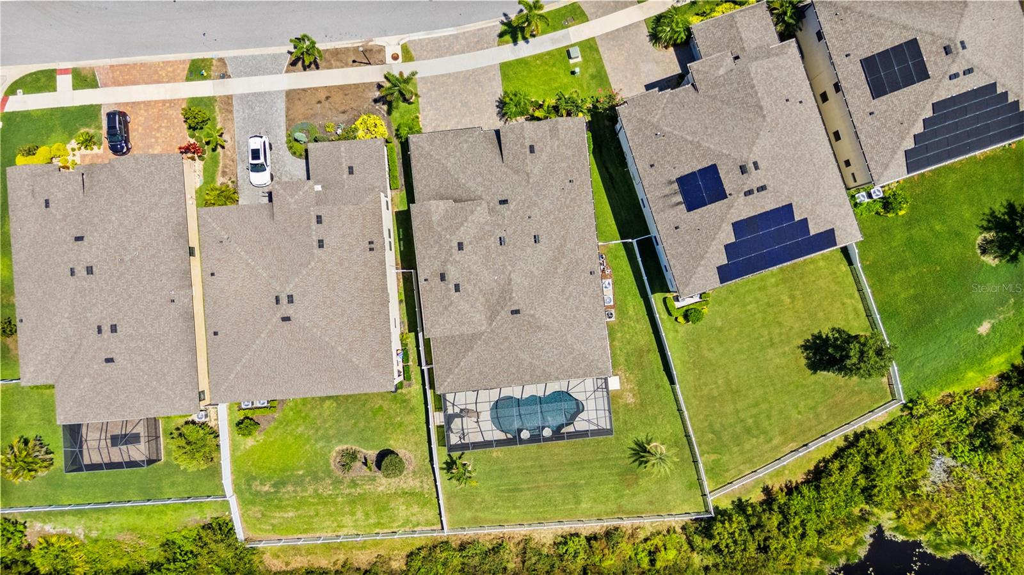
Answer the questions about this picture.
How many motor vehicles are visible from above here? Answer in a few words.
2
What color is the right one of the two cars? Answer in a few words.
white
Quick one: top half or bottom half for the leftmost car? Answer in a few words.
top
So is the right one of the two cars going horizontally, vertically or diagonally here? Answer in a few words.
vertically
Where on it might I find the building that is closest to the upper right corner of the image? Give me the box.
[788,0,1024,191]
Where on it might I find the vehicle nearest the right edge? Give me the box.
[245,134,272,188]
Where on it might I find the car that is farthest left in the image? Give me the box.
[102,110,132,159]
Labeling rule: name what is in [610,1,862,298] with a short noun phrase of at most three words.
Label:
house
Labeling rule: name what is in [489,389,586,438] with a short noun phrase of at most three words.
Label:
swimming pool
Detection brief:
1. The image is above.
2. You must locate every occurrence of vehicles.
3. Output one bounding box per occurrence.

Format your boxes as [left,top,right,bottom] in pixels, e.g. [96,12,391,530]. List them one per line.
[245,134,272,188]
[102,110,132,159]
